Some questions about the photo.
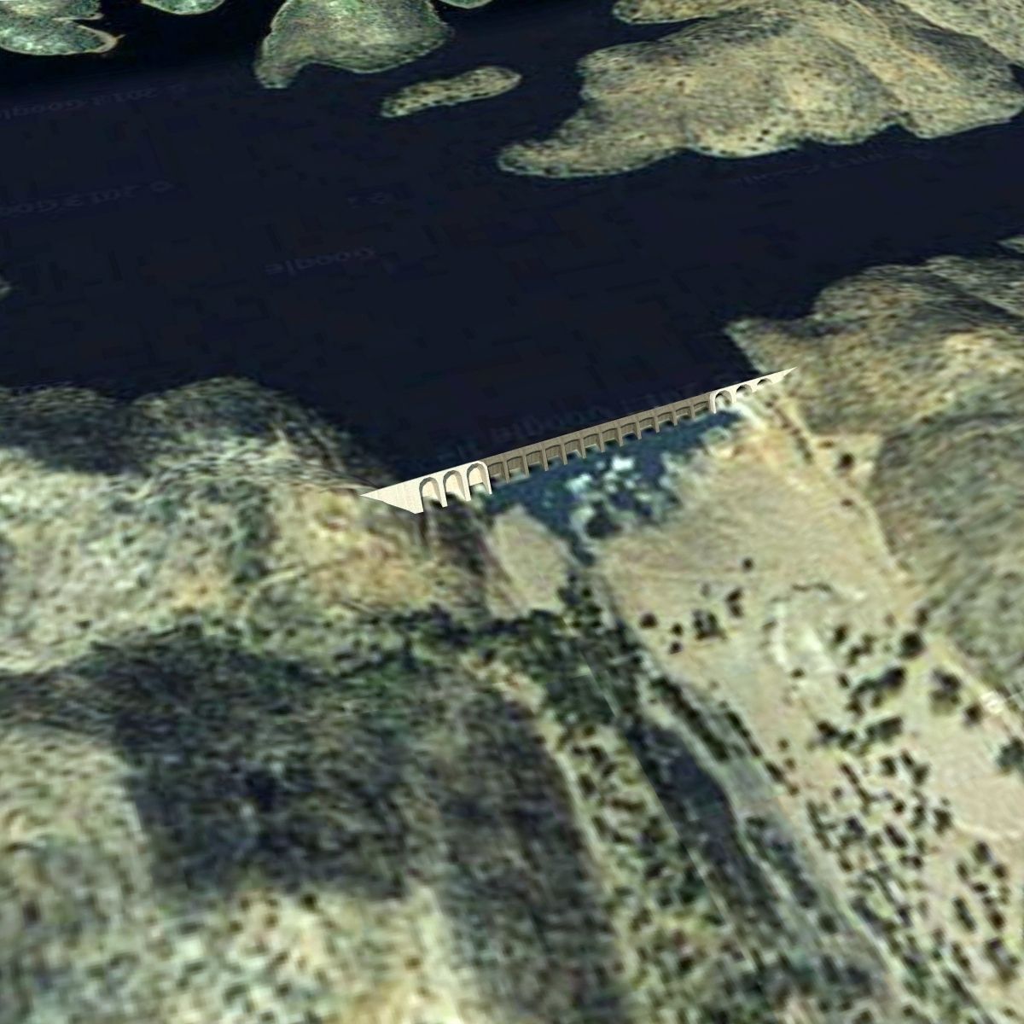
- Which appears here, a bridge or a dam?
dam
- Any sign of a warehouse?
No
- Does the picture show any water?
Yes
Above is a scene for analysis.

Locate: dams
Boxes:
[359,367,798,517]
